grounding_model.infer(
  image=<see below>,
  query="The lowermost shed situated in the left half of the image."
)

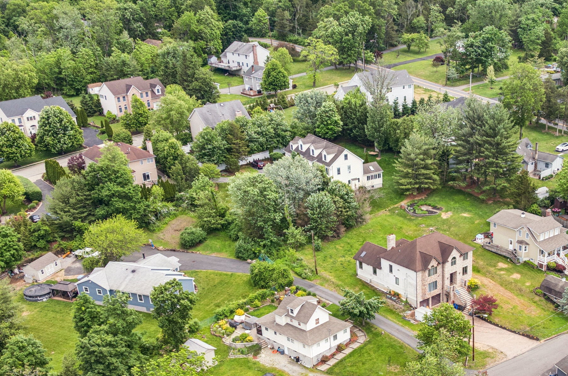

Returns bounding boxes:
[186,344,220,372]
